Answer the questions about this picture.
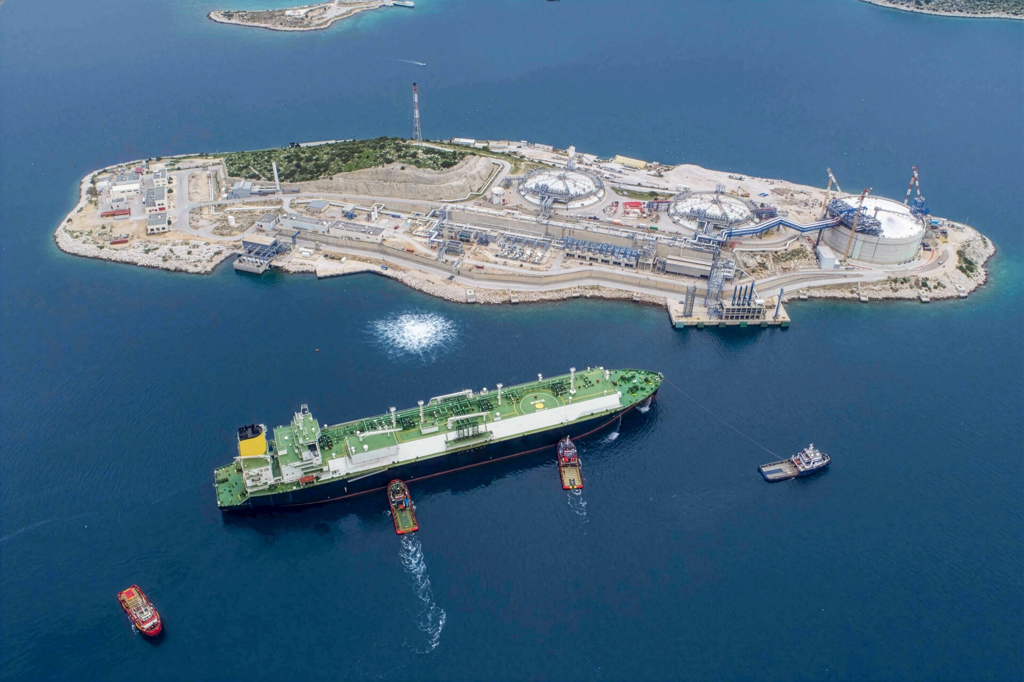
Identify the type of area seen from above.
port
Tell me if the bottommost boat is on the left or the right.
left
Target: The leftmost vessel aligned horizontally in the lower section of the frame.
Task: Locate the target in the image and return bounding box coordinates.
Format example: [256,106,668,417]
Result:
[211,362,664,511]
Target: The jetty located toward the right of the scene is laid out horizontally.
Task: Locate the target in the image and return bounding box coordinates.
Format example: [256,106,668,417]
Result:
[666,294,791,326]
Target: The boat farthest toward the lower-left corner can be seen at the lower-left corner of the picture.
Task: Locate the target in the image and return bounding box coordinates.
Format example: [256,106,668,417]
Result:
[114,583,162,641]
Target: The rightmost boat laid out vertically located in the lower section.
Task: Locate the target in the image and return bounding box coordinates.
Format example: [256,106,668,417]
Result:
[558,437,585,492]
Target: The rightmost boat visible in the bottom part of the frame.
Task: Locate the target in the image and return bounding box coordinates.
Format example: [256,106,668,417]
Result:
[756,443,831,482]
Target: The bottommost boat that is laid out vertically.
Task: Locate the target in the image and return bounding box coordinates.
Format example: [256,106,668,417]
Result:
[387,479,421,538]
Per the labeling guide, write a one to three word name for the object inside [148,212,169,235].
building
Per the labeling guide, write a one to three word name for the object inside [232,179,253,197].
shed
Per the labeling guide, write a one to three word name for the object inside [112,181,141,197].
building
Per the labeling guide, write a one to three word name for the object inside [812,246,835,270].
shed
